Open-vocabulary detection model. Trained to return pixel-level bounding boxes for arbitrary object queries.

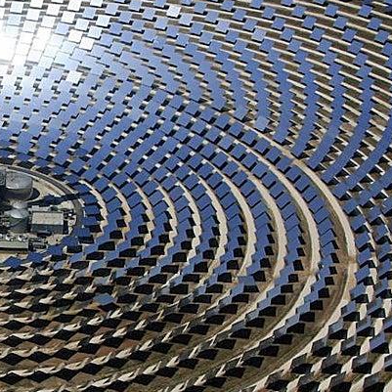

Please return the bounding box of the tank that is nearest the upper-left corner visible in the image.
[2,171,33,201]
